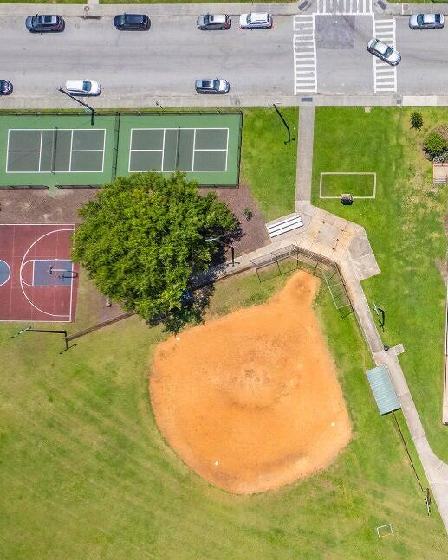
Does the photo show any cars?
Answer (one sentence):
Yes, looking at the shot, I can spot a car.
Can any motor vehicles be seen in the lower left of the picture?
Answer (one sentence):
No, there's no motor vehicle to be seen in the lower left of the picture.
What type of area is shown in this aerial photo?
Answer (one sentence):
This looks like a sports ground.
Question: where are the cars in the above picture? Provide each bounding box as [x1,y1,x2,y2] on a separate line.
[65,78,102,96]
[198,11,232,30]
[0,77,16,95]
[115,11,151,31]
[410,11,444,29]
[366,38,402,66]
[240,10,274,29]
[27,12,66,32]
[194,76,230,94]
